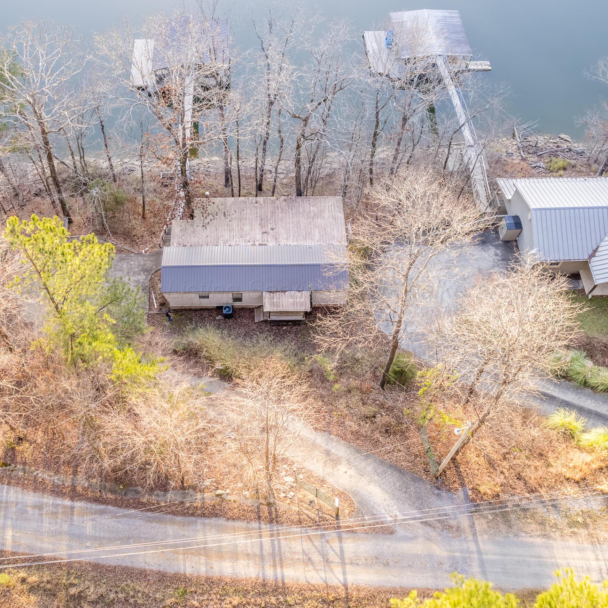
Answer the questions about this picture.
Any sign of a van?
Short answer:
No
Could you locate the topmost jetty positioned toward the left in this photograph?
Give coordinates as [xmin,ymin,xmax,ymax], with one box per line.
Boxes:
[133,12,232,104]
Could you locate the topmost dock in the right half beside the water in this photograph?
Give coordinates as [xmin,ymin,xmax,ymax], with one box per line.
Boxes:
[365,9,470,92]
